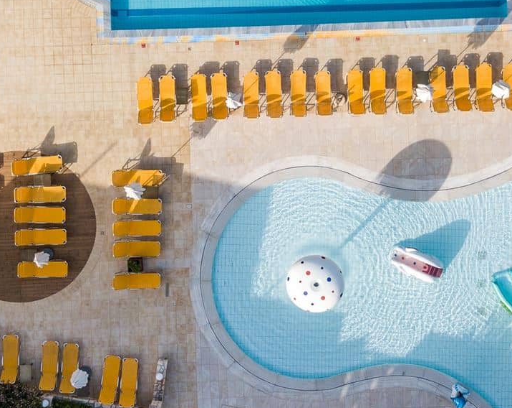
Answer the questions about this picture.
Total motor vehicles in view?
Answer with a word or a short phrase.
0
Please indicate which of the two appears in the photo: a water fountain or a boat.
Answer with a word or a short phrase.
water fountain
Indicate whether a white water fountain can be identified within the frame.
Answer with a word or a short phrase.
Yes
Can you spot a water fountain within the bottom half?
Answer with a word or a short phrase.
Yes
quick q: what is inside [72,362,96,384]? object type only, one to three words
umbrella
